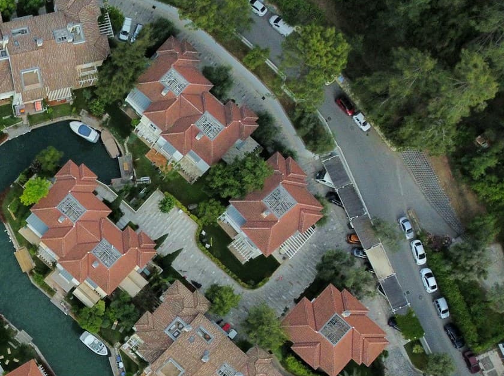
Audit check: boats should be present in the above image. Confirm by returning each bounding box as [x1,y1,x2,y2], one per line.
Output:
[76,331,107,353]
[69,123,101,146]
[98,132,119,159]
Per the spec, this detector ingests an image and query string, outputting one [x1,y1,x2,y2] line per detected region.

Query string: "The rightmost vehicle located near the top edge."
[268,14,296,37]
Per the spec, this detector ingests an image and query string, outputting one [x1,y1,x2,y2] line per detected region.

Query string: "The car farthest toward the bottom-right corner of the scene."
[459,348,482,375]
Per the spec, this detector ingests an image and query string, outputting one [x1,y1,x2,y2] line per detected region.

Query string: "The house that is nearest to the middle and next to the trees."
[217,150,325,258]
